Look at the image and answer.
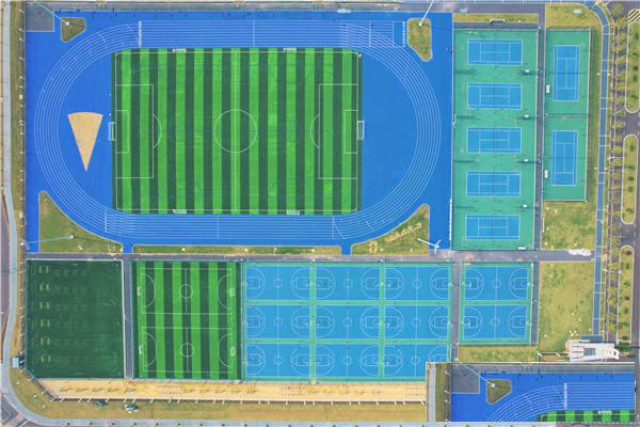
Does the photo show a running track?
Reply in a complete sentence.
Yes, there is a running track in the image.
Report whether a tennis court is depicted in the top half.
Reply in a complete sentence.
Yes, in the top half there is a tennis court.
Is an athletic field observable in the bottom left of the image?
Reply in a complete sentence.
Yes, an athletic field can be seen in the bottom left of the image.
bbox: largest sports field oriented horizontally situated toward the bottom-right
[451,372,636,422]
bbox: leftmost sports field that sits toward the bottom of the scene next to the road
[27,260,122,379]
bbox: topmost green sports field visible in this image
[111,47,362,215]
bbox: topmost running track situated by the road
[32,18,443,239]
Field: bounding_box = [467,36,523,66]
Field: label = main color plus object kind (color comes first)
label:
blue tennis court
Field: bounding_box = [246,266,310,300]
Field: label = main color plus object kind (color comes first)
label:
blue basketball court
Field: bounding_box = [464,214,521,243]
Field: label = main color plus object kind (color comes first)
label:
blue tennis court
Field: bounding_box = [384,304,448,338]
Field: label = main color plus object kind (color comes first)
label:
blue basketball court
